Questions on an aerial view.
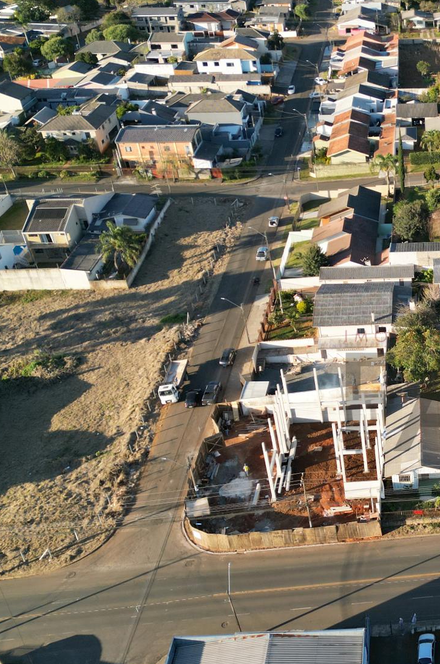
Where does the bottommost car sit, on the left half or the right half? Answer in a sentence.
The bottommost car appears in the right half of the scene.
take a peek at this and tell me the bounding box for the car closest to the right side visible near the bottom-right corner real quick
[416,633,439,664]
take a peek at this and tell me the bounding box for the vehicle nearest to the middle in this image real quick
[218,343,239,367]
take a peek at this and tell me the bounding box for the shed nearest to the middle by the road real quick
[240,382,269,417]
